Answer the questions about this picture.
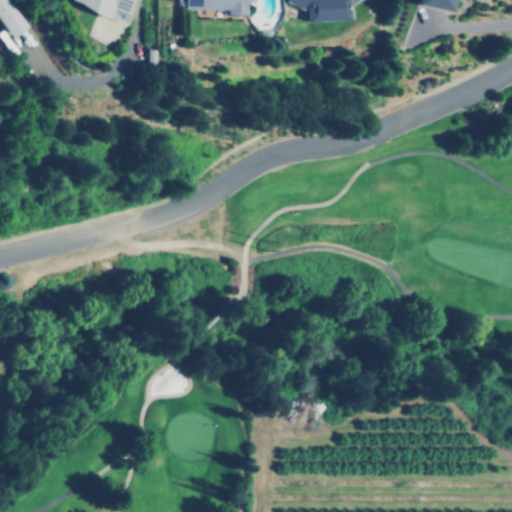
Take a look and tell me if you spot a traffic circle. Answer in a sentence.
No, no traffic circle is visible in the view.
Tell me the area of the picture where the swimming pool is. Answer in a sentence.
The swimming pool is located in the top region of the scene.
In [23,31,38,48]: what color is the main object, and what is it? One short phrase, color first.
white vehicle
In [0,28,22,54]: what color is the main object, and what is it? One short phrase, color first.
white camper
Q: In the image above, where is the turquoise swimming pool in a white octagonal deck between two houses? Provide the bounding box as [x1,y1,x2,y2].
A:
[254,0,281,36]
